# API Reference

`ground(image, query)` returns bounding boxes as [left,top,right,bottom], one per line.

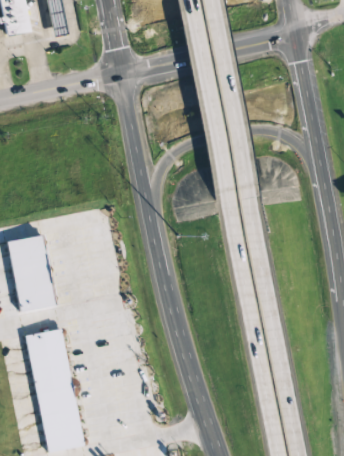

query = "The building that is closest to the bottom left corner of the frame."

[25,329,84,453]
